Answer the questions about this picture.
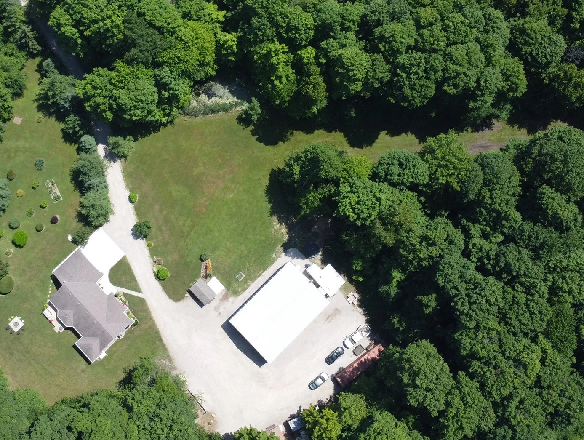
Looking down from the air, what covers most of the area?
trees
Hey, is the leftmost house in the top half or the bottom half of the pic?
bottom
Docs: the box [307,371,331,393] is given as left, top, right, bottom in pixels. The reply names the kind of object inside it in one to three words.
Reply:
car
